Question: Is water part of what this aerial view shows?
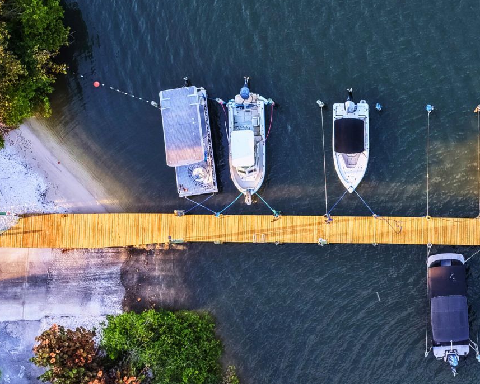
Yes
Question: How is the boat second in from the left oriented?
up and down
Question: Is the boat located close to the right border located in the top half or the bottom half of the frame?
bottom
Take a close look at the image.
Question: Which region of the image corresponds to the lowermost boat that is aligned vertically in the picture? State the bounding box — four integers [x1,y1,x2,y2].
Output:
[429,253,469,379]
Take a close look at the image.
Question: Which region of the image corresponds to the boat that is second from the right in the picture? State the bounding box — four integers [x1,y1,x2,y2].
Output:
[332,86,370,193]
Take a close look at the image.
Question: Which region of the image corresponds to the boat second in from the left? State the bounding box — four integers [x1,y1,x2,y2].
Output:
[228,73,266,205]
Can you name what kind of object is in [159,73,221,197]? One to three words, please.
boat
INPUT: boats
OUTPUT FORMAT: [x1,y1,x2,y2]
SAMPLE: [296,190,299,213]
[159,73,221,197]
[332,86,370,193]
[429,253,469,379]
[228,73,266,205]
